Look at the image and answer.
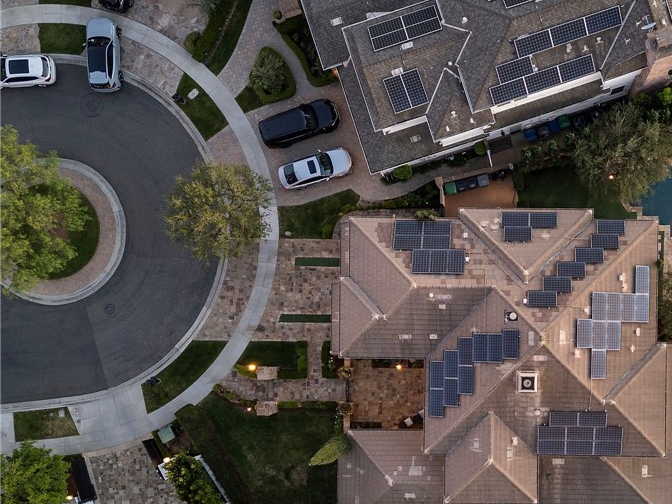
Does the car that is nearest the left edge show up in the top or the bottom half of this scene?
top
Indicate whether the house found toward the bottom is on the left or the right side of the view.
right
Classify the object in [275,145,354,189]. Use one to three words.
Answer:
car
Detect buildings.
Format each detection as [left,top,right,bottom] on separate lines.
[302,0,672,176]
[330,208,672,504]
